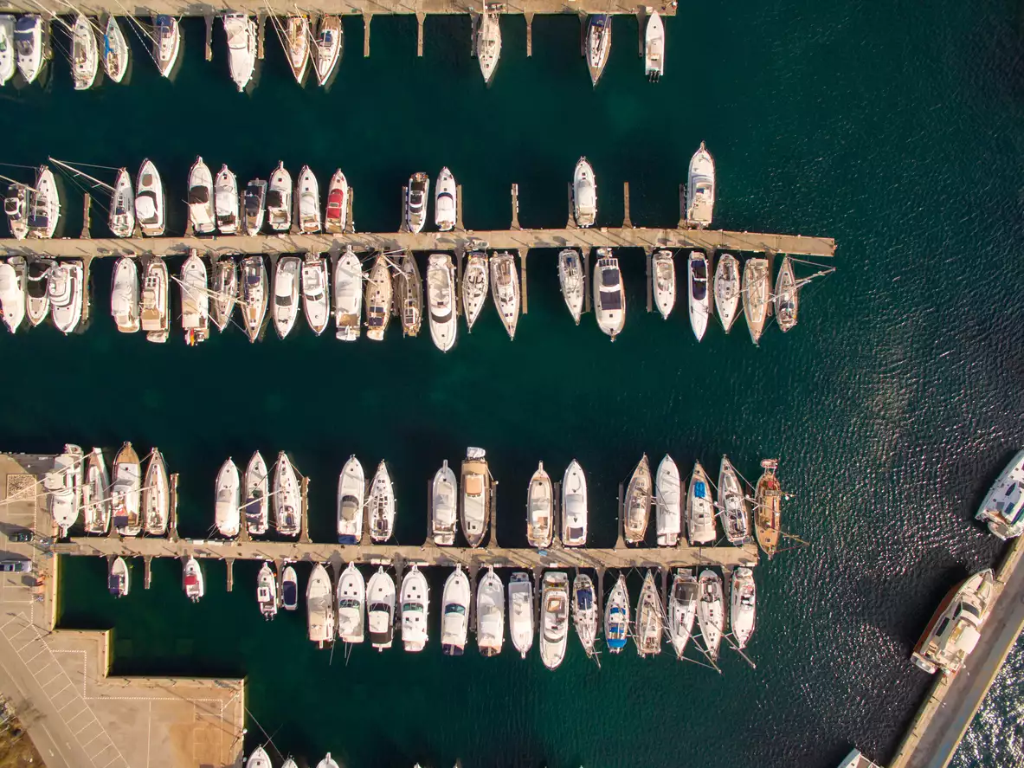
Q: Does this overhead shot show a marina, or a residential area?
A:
marina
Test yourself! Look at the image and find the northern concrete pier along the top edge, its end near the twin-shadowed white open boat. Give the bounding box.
[0,0,676,63]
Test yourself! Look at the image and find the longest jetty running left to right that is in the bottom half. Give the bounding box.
[70,473,758,635]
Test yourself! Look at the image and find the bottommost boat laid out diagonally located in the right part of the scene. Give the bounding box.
[912,657,932,673]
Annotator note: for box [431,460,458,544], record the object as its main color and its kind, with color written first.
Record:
white boat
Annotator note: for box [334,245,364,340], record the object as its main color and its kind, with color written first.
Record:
white boat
